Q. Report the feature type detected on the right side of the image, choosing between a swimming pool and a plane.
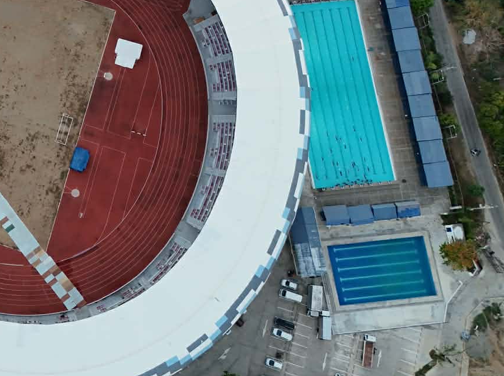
swimming pool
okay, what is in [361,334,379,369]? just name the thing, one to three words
vehicle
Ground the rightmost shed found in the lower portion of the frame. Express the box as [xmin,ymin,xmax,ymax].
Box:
[438,225,466,241]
